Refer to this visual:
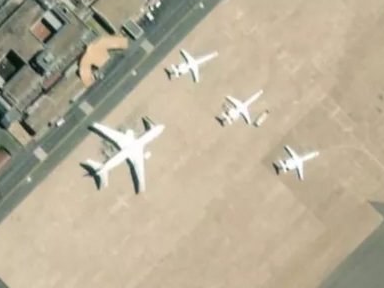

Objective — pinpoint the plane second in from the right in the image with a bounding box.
[220,91,262,126]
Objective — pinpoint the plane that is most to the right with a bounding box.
[278,145,318,180]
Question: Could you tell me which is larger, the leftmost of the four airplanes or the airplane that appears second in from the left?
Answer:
the leftmost of the four airplanes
